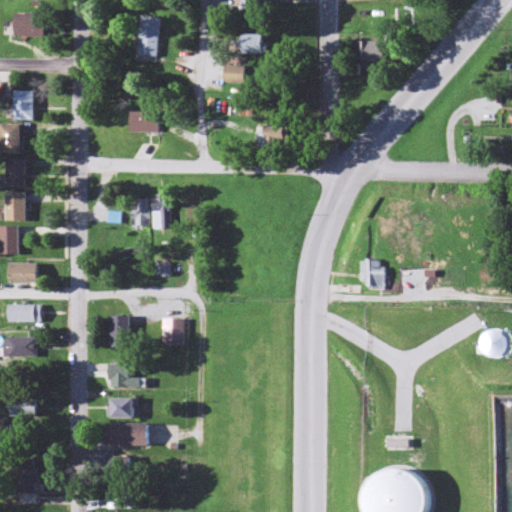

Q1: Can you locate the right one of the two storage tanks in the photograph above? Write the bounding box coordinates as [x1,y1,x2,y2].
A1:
[474,325,512,362]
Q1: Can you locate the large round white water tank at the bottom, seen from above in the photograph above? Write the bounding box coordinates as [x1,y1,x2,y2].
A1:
[356,464,435,512]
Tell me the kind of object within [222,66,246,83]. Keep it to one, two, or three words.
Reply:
building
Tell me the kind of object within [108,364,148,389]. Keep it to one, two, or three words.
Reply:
house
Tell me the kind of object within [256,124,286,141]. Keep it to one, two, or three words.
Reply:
house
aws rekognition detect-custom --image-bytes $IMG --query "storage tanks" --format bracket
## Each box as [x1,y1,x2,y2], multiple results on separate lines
[474,325,512,362]
[356,464,435,512]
